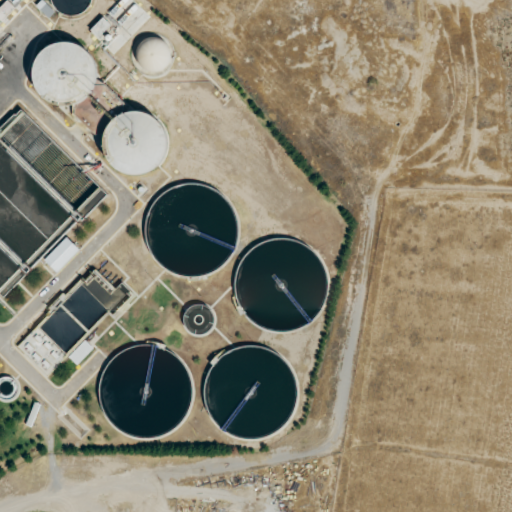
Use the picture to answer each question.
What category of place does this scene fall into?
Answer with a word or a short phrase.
industrial area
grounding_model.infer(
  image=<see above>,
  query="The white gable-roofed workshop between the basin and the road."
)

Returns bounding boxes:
[45,237,80,272]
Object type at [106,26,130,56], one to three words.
building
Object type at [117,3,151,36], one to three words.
building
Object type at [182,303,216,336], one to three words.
storage tank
